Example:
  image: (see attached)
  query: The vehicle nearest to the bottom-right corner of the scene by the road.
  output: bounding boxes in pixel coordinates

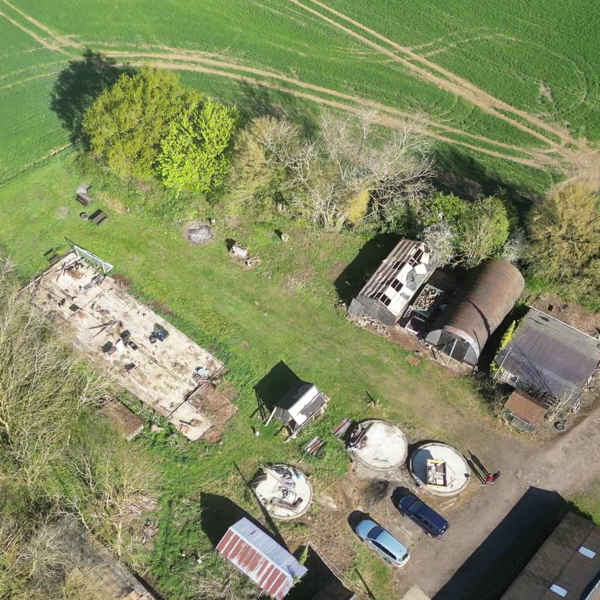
[398,494,454,545]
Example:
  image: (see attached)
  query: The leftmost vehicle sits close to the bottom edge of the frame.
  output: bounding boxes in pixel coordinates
[355,519,414,573]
